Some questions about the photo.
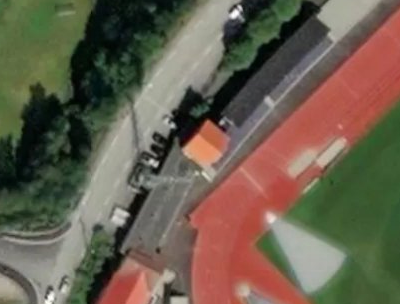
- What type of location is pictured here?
sports ground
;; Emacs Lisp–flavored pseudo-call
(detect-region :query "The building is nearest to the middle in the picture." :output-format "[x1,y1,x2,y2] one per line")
[182,119,231,167]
